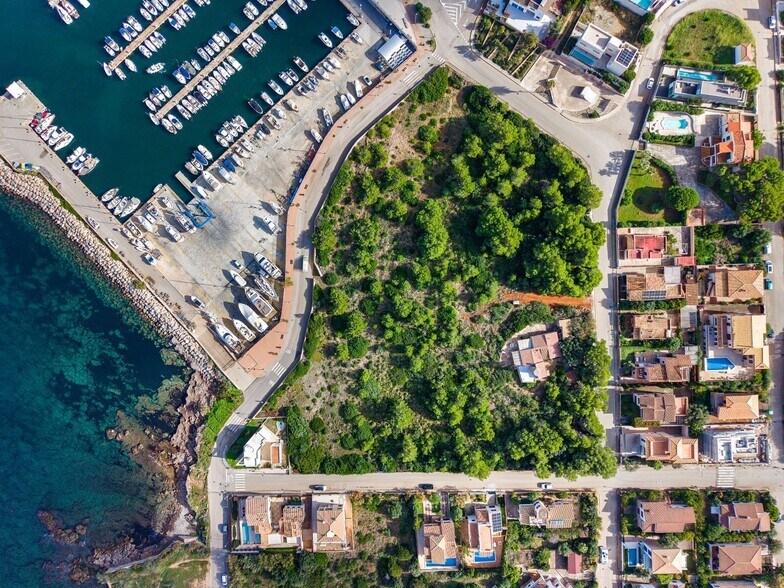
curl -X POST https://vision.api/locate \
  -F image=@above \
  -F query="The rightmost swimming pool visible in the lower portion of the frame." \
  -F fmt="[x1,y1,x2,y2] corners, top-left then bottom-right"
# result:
[706,358,735,371]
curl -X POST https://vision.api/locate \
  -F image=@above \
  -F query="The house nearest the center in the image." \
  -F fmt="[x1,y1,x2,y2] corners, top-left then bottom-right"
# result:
[510,332,562,384]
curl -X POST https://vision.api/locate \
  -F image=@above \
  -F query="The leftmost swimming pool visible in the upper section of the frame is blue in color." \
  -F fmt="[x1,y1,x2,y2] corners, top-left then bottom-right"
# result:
[569,50,597,68]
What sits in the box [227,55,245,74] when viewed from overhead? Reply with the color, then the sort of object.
white boat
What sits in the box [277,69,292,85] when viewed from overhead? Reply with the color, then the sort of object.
white boat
